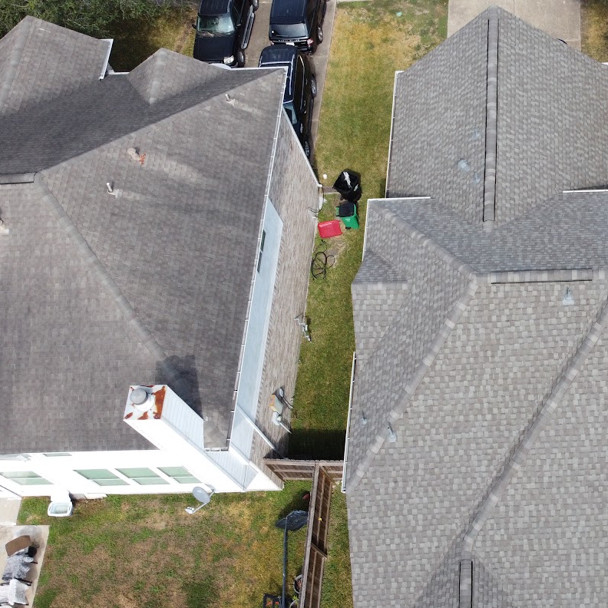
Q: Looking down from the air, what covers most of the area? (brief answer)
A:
buildings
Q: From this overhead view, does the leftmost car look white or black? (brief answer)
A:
black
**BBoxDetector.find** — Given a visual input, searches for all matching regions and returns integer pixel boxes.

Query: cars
[265,0,326,54]
[189,0,258,74]
[263,50,318,156]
